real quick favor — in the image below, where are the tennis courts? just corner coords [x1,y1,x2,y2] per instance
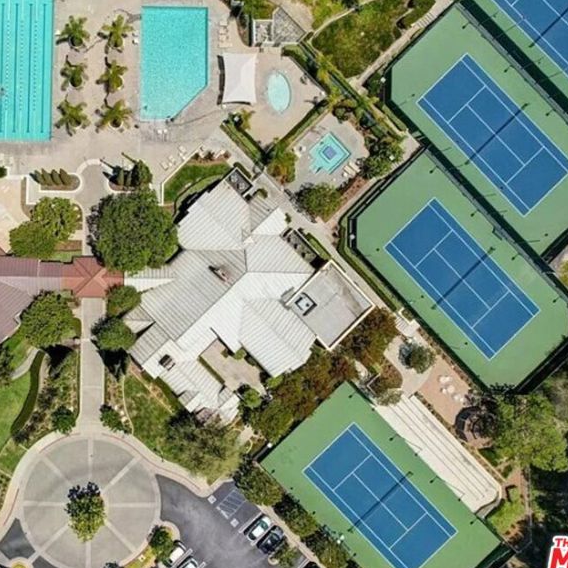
[389,5,568,250]
[364,151,568,391]
[473,0,568,102]
[267,388,501,568]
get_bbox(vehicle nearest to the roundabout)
[162,540,189,568]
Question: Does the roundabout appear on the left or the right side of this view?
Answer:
left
